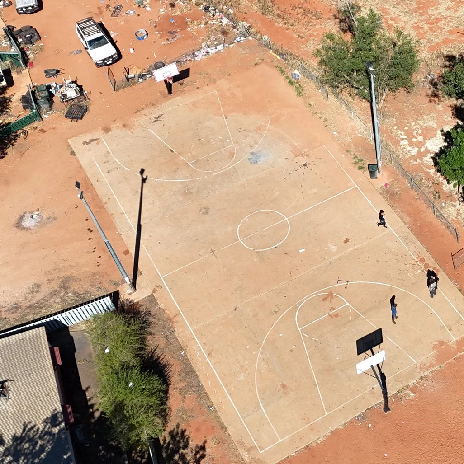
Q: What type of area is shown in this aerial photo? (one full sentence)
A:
It's a sports ground.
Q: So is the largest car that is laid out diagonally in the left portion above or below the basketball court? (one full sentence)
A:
In the image, the largest car that is laid out diagonally in the left portion sits above the basketball court.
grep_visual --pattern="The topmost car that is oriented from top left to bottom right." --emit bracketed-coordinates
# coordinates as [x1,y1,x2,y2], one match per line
[76,17,118,68]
